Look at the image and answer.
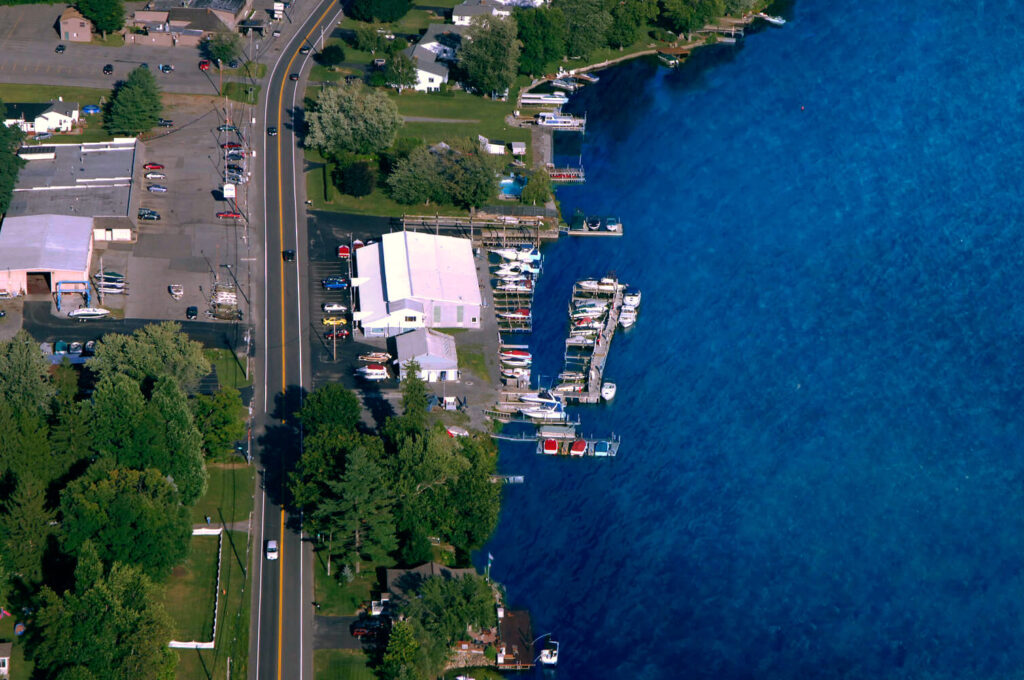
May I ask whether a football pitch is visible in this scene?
No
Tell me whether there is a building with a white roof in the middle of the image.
Yes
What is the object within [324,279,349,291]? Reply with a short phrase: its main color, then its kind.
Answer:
blue vehicle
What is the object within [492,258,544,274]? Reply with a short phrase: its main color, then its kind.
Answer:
white boat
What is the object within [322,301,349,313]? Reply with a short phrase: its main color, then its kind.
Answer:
white vehicle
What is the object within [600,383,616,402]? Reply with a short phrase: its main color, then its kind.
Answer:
white boat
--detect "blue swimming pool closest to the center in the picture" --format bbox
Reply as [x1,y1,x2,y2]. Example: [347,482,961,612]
[500,180,526,198]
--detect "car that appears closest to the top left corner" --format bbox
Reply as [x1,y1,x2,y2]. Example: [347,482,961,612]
[56,41,68,53]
